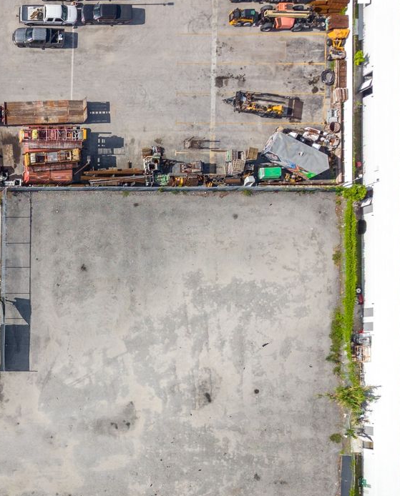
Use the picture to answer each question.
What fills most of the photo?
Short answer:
paved ground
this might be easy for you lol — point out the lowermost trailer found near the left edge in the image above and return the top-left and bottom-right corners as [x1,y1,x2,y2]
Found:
[0,97,86,126]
